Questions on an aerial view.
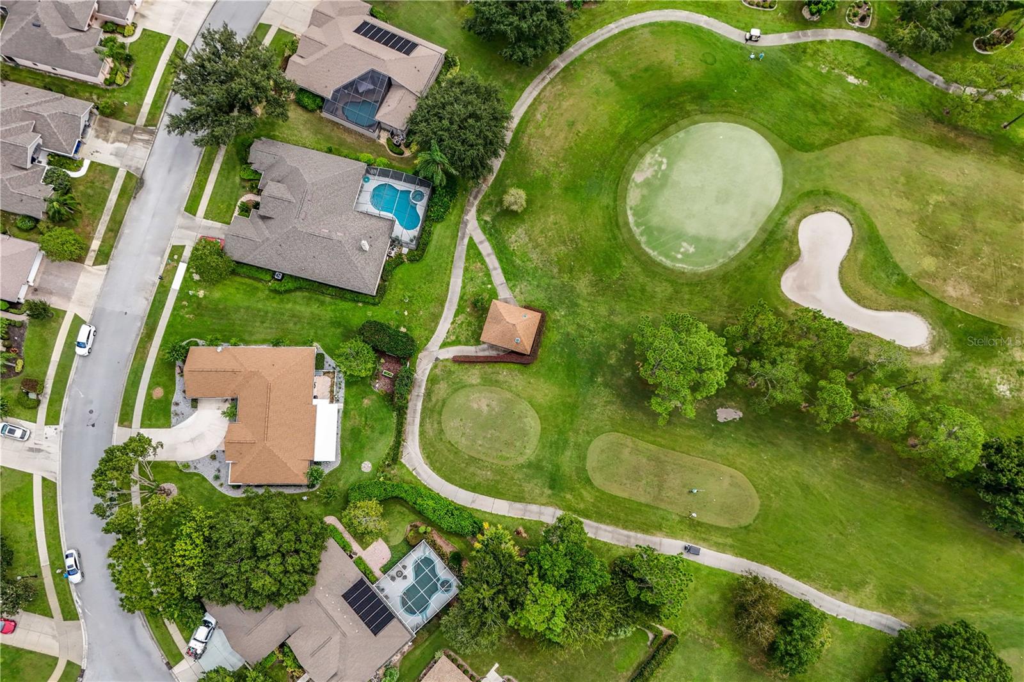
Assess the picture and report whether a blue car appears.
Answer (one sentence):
No, this view has no blue car in it.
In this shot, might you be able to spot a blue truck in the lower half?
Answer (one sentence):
No, in the lower half there is no blue truck.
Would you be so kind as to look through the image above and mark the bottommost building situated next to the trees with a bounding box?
[419,654,471,682]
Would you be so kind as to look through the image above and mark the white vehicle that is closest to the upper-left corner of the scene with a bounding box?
[76,325,97,355]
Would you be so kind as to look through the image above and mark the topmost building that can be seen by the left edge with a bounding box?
[0,0,145,85]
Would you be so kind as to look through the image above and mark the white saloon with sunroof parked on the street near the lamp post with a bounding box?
[65,547,86,585]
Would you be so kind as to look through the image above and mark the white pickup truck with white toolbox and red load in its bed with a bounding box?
[181,615,217,664]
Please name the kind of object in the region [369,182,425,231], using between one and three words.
swimming pool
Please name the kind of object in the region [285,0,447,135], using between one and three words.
house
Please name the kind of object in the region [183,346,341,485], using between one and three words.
house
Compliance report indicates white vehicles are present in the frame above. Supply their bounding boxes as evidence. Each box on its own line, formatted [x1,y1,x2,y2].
[0,423,32,442]
[746,28,763,42]
[181,615,217,664]
[76,325,97,355]
[65,547,86,585]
